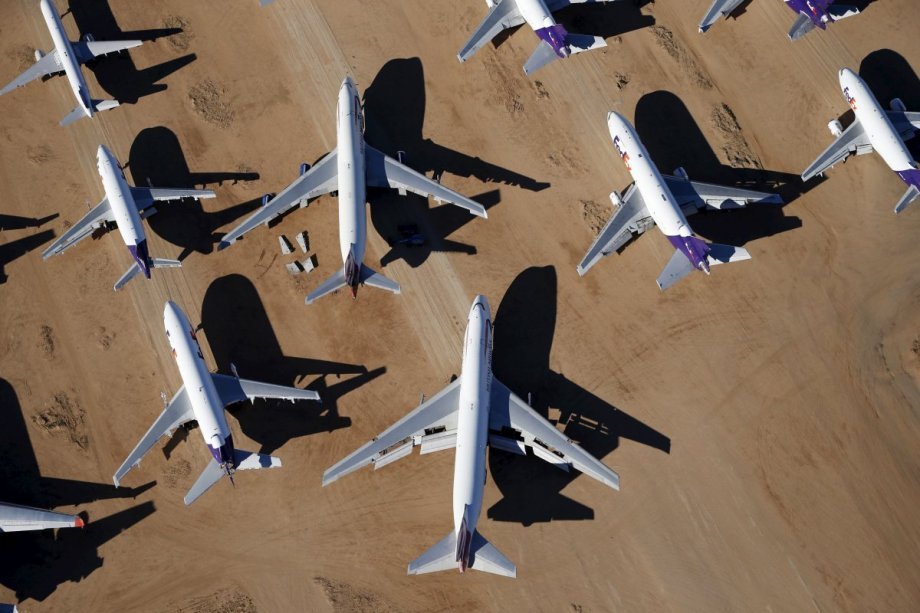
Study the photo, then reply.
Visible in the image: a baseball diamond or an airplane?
airplane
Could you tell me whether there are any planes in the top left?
Yes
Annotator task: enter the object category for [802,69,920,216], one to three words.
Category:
airplane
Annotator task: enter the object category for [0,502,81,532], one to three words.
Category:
airplane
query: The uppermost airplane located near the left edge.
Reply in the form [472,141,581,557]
[2,0,143,127]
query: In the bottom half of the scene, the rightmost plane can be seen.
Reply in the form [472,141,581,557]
[323,292,617,577]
